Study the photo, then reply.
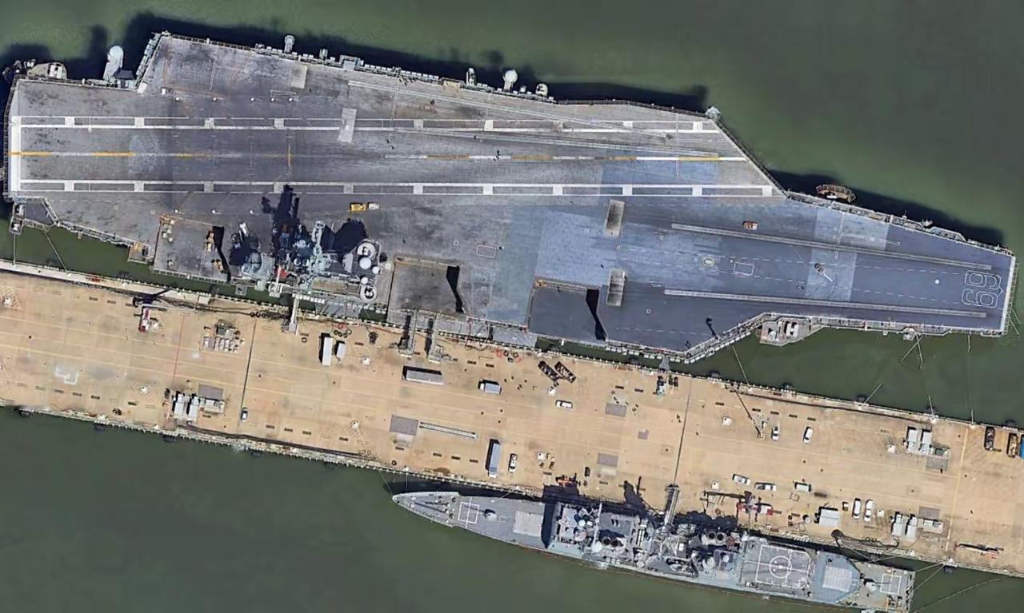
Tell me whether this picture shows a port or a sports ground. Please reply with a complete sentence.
The area seen from above is a port.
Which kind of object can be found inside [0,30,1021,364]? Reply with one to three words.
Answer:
ship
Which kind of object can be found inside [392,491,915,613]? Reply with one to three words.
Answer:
vessel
